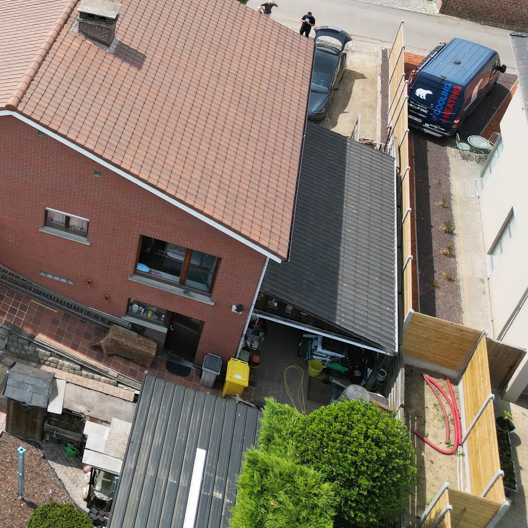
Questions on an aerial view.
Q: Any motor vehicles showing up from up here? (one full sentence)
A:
Yes, a motor vehicle is visible in the scene.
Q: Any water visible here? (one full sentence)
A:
No, there's no water in this view.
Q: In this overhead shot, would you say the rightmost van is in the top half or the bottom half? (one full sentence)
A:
The rightmost van sits in the top half of the picture.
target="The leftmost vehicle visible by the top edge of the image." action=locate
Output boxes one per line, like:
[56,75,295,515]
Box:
[308,22,366,118]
